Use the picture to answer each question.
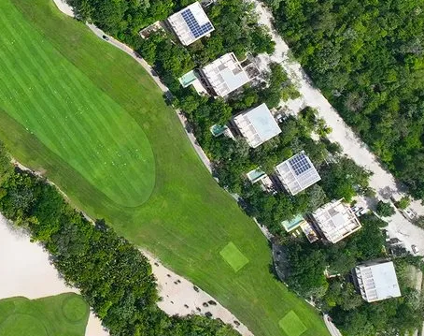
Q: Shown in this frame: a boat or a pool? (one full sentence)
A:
Of the two, only a pool appears.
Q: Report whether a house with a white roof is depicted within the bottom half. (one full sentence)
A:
Yes, I can see a house with a white roof within the bottom half.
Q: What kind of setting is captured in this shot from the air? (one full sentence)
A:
This image shows a golf course.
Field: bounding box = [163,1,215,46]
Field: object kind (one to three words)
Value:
house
